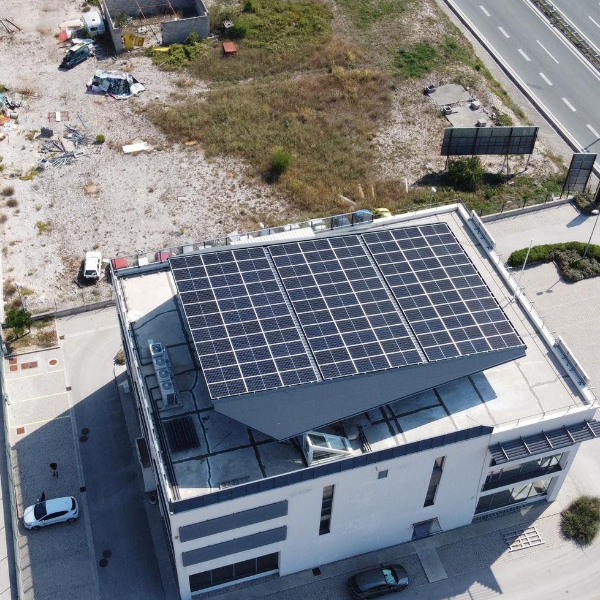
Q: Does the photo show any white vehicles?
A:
Yes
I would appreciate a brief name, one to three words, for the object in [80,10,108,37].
camper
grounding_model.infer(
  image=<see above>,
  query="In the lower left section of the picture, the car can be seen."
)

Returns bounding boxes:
[24,490,79,529]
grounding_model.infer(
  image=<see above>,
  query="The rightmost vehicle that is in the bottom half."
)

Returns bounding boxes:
[346,562,411,600]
